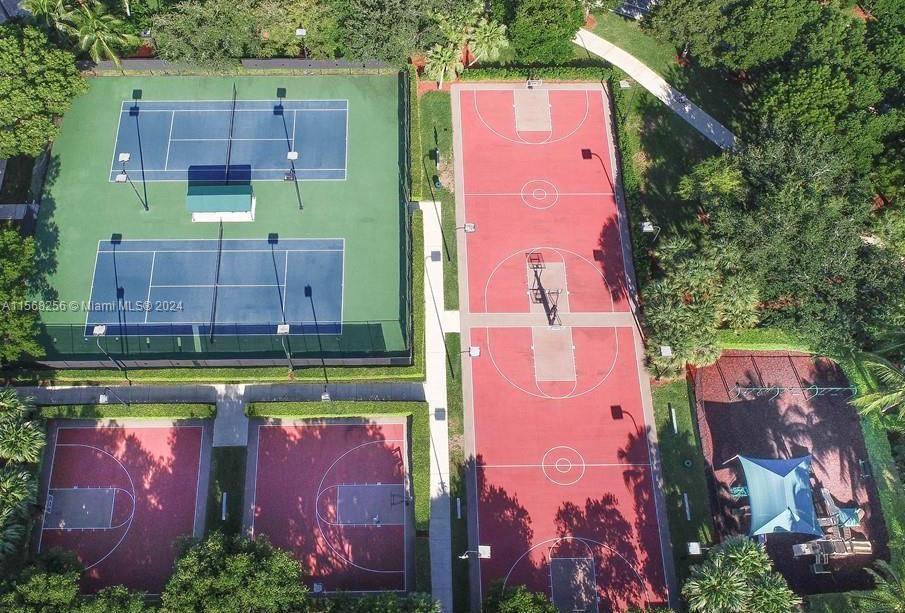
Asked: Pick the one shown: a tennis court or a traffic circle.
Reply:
tennis court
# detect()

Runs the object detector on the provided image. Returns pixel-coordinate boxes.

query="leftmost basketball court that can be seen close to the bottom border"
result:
[25,418,212,602]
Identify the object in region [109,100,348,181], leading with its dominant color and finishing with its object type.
blue tennis court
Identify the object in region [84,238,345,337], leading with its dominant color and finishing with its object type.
blue tennis court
